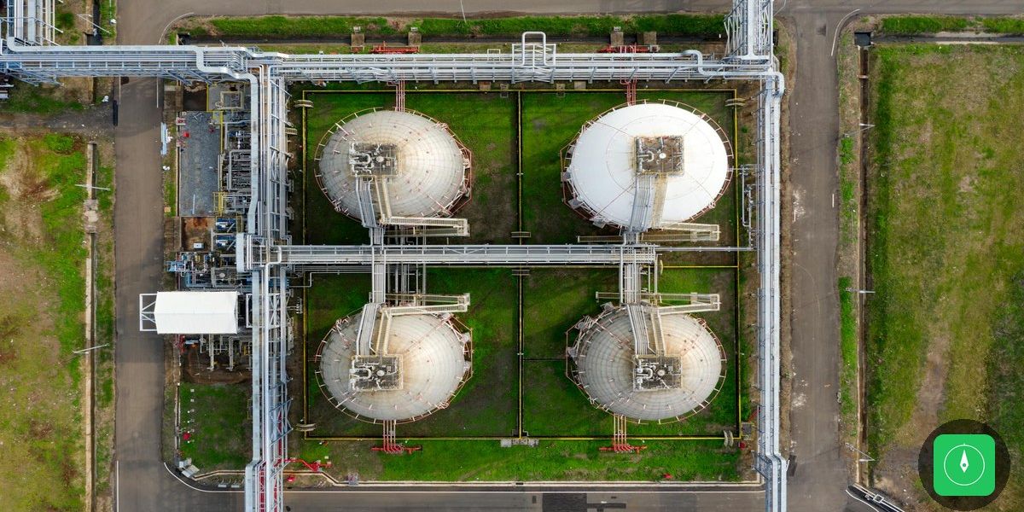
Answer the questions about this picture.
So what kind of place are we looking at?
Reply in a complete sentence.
The area seen from above is an industrial area.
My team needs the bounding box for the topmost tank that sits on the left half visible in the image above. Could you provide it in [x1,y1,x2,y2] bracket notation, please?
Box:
[313,105,471,225]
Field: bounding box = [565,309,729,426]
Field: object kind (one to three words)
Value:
storage tank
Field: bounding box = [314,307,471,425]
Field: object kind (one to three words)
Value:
storage tank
